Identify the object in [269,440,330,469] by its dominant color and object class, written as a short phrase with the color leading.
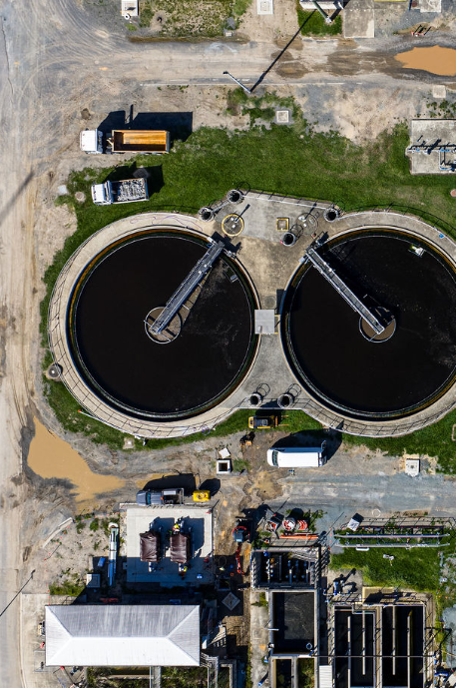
white van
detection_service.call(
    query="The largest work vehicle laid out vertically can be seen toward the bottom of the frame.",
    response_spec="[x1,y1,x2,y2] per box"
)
[232,516,250,574]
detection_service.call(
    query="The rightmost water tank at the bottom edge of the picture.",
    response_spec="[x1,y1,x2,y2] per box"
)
[330,606,428,688]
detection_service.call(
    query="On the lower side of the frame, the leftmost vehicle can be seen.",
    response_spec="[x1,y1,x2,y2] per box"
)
[134,486,189,508]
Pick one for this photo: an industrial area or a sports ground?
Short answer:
industrial area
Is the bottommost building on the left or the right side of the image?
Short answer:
left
